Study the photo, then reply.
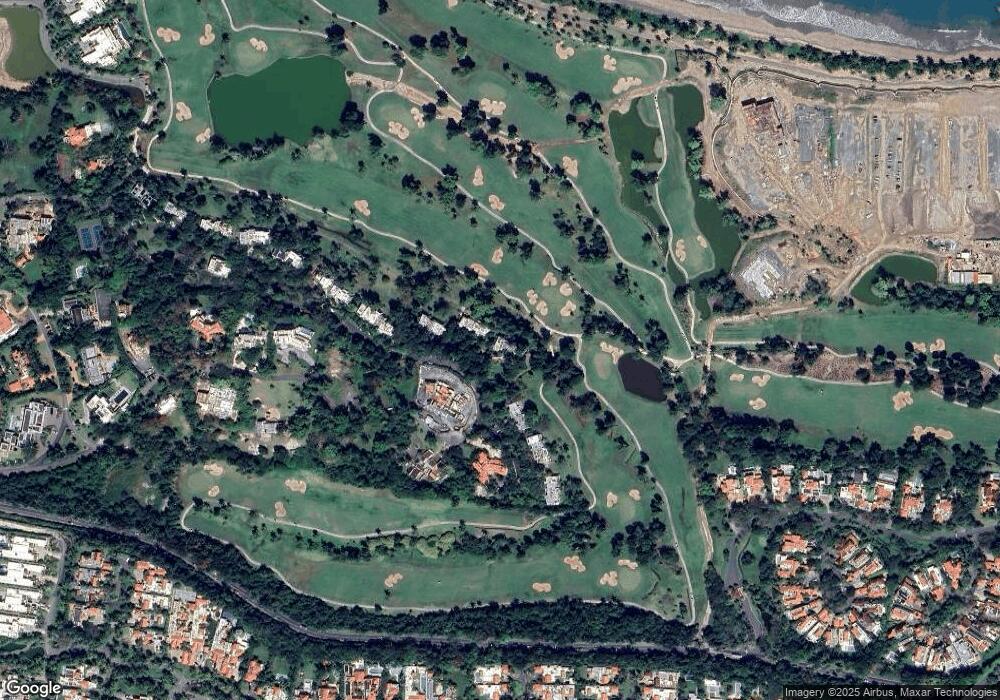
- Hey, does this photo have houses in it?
Yes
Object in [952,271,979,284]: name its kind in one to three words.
shed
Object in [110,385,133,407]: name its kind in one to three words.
swimming pool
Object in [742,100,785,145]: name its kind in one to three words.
building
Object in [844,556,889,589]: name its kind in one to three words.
house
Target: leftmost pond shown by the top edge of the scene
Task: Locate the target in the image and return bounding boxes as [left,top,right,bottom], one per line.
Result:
[0,5,58,82]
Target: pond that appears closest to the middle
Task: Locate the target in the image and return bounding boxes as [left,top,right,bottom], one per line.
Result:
[618,351,669,401]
